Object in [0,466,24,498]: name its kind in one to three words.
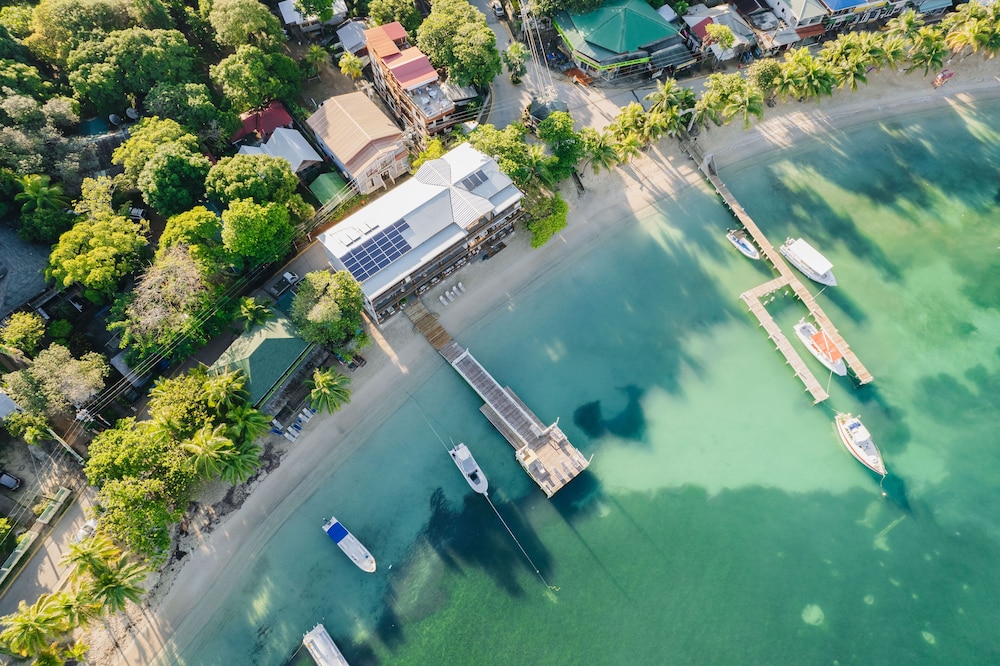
car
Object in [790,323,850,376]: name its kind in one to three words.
boat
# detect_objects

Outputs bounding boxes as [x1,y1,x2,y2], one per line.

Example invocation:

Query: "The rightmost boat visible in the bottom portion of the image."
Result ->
[829,412,895,482]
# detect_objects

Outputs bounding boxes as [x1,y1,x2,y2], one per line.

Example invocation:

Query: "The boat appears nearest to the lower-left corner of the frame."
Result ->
[299,625,356,666]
